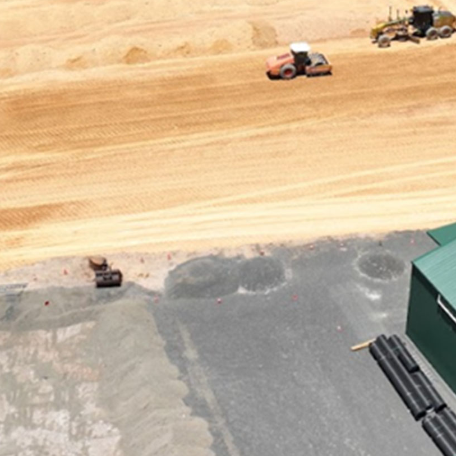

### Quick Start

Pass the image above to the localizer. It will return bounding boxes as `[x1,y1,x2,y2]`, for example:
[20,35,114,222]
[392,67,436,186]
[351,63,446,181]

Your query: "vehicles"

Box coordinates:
[368,0,456,46]
[268,36,335,79]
